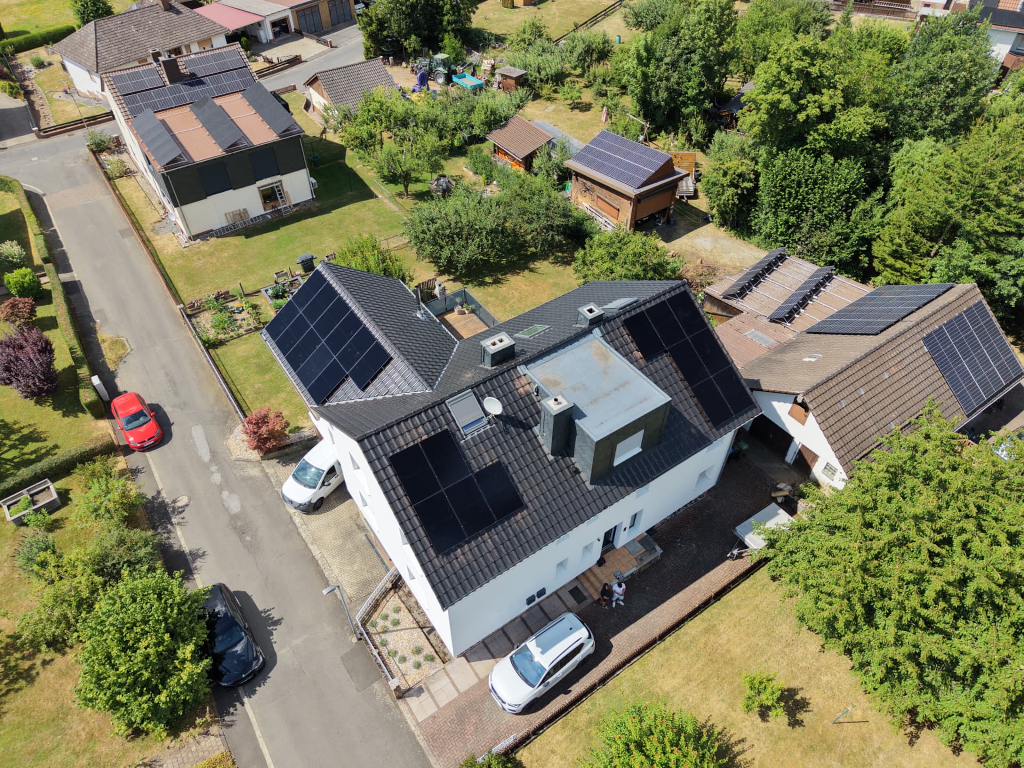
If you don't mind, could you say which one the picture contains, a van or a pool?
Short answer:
van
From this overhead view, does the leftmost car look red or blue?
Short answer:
red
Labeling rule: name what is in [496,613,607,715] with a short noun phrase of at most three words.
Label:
car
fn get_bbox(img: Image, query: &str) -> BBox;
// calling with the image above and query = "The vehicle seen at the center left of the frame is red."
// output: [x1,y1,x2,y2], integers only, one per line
[110,389,165,456]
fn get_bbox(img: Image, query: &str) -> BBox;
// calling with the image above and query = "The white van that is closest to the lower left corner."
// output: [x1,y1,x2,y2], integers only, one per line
[275,417,341,510]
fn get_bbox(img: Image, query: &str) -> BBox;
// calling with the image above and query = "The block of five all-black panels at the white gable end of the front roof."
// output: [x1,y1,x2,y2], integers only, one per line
[389,430,525,555]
